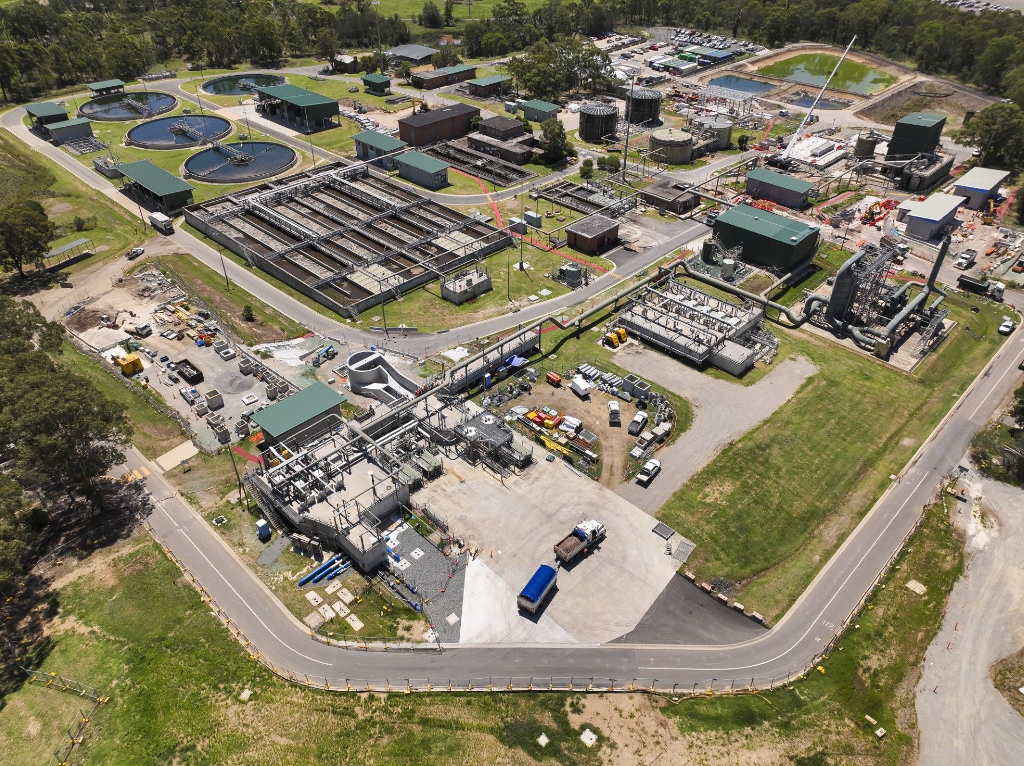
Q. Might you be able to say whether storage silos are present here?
Yes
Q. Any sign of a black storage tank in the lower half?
No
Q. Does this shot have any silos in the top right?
Yes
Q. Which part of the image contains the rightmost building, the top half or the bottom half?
top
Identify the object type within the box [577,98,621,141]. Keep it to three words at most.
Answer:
storage tank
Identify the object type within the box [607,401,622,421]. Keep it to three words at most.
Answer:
vehicle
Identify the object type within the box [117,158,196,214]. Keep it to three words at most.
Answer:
shed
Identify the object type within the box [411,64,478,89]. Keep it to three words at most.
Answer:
building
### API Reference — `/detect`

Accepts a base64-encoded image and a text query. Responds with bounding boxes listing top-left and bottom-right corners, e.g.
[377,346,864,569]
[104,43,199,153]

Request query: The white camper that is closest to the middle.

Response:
[572,378,593,398]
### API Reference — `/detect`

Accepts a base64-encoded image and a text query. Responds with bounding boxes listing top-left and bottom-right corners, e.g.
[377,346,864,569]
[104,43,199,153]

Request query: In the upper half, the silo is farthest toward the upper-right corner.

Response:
[853,128,882,155]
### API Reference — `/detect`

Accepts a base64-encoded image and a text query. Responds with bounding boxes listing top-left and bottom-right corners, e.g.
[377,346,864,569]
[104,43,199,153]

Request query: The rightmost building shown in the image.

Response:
[950,164,1012,207]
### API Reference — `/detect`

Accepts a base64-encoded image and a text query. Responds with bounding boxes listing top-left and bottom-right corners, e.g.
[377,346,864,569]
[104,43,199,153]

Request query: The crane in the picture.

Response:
[766,33,859,159]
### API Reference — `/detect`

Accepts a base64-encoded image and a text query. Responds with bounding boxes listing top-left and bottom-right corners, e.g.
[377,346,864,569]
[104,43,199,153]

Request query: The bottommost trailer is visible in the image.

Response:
[513,563,561,616]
